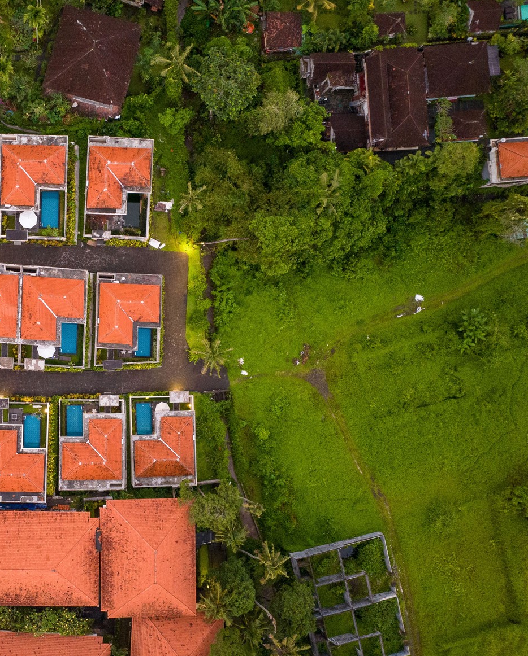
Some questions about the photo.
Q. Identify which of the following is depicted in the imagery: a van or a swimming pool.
swimming pool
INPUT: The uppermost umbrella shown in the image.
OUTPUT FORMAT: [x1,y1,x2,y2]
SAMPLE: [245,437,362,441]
[19,211,37,229]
